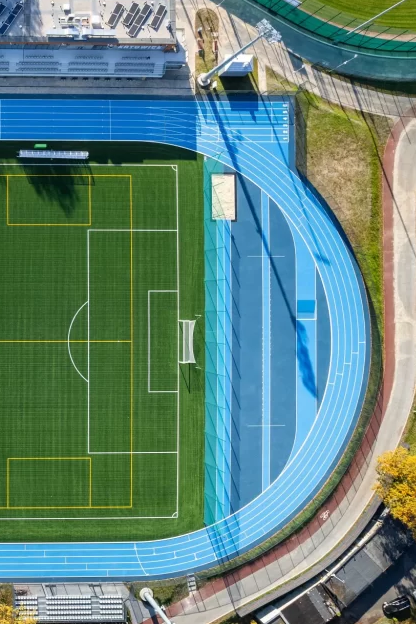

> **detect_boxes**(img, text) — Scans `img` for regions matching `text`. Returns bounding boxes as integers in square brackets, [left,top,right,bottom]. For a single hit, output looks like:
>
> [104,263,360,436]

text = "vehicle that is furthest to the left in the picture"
[380,596,410,613]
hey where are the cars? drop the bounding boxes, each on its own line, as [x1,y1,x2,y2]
[411,587,416,599]
[380,596,410,613]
